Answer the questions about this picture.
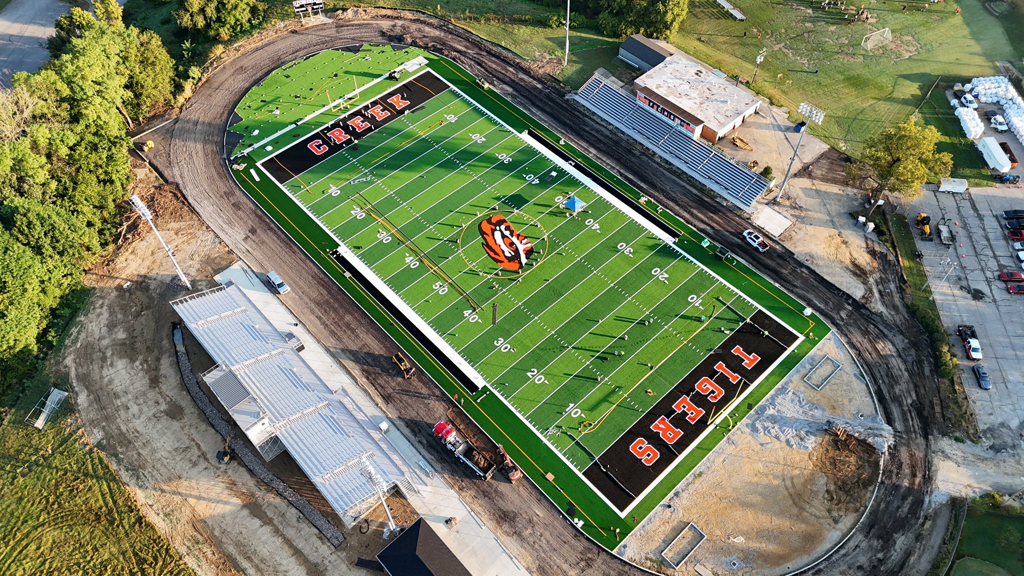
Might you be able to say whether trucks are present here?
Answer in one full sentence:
Yes, this view includes a truck.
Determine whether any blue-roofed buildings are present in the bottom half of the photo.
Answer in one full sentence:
No, I see no blue-roofed building in the bottom half of the photo.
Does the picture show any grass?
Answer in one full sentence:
Yes, some grass is visible.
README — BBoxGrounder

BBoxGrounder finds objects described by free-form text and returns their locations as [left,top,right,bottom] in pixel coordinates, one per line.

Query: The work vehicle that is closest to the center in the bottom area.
[390,351,417,382]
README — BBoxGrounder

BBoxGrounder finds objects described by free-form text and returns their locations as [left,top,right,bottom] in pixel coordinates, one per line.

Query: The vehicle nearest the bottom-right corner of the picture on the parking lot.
[973,366,994,391]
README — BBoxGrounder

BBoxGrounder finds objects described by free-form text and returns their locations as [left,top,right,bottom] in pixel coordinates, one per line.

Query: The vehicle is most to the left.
[138,137,153,150]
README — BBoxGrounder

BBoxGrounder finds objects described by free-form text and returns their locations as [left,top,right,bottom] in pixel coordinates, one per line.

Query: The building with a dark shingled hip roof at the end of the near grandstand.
[375,517,473,576]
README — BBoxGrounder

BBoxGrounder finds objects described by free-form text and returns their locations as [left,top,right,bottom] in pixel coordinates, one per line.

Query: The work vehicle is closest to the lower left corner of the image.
[216,437,237,471]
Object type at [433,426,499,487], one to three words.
truck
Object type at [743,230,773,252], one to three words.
vehicle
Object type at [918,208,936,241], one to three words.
work vehicle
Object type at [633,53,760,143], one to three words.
building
